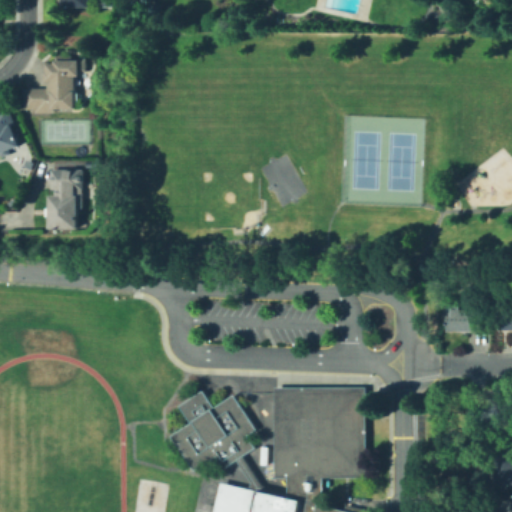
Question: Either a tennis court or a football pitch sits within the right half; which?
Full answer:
Visible within the right half is a tennis court.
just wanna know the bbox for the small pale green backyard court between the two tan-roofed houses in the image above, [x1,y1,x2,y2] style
[42,120,92,143]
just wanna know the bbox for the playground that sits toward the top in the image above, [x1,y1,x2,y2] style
[467,148,512,208]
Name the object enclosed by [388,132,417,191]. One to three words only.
tennis court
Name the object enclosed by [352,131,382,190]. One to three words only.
tennis court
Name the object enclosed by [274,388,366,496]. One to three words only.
building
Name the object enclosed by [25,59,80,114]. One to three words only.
house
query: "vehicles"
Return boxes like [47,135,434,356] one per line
[482,334,487,346]
[38,162,45,177]
[392,342,402,352]
[475,334,480,346]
